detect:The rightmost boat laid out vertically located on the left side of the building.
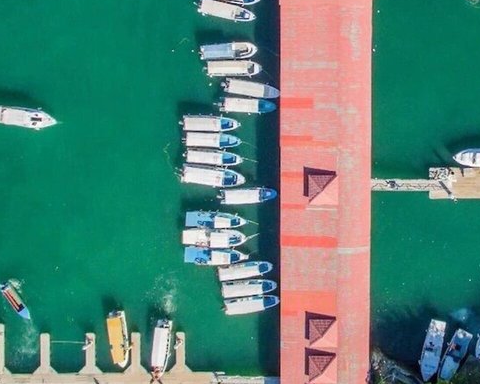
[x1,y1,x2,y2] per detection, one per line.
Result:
[150,315,174,379]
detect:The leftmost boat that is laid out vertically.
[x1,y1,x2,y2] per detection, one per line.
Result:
[109,308,134,368]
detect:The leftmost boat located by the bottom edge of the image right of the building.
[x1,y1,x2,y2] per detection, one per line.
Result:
[421,318,446,382]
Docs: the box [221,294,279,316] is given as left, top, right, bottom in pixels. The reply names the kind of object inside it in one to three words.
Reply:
boat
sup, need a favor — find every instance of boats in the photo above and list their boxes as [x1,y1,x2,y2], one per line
[218,277,278,297]
[216,261,279,281]
[204,59,276,80]
[198,42,278,62]
[184,211,256,229]
[215,187,278,204]
[181,228,258,247]
[221,294,279,316]
[442,329,471,380]
[0,108,59,131]
[181,116,241,133]
[150,315,174,379]
[183,133,257,151]
[109,308,134,368]
[218,78,278,100]
[215,98,277,116]
[453,150,480,168]
[184,247,257,265]
[196,0,278,23]
[0,281,30,319]
[180,166,278,187]
[421,318,446,382]
[184,150,256,168]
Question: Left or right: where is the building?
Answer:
right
